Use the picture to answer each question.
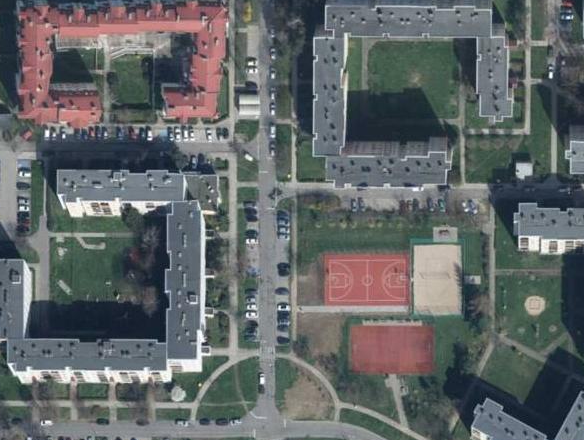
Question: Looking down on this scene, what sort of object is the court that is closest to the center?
basketball court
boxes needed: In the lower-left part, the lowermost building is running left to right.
[6,339,169,385]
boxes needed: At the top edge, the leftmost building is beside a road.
[16,0,229,132]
